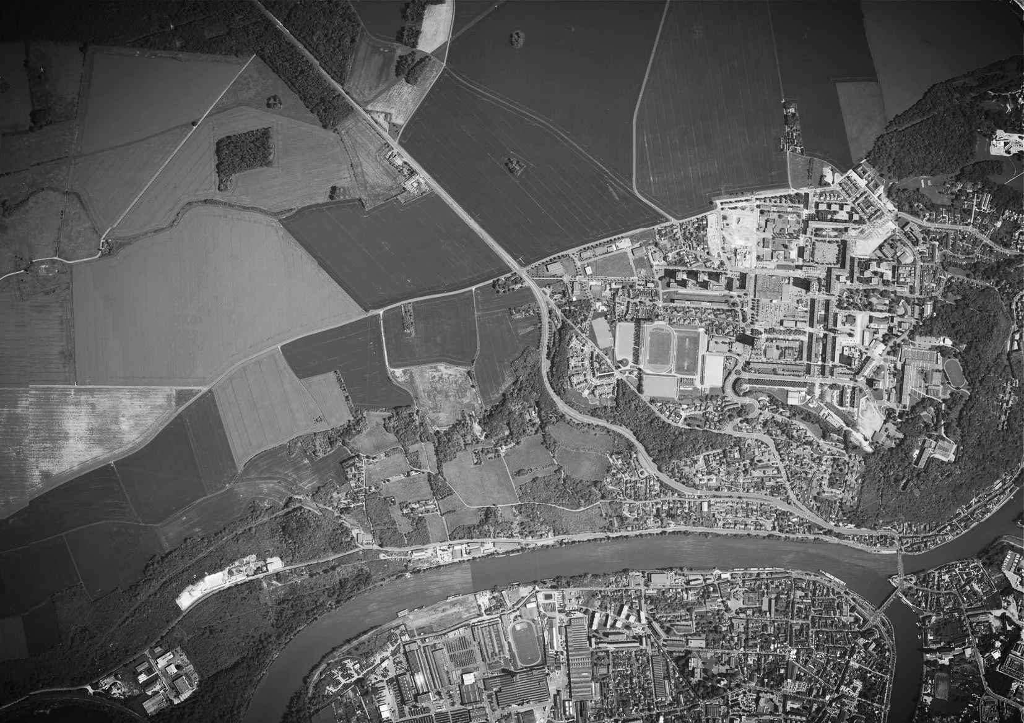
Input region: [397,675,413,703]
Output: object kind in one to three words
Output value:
building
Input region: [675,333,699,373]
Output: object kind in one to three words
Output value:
sports field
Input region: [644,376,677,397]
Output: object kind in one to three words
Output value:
sports field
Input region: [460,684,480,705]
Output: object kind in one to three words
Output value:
building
